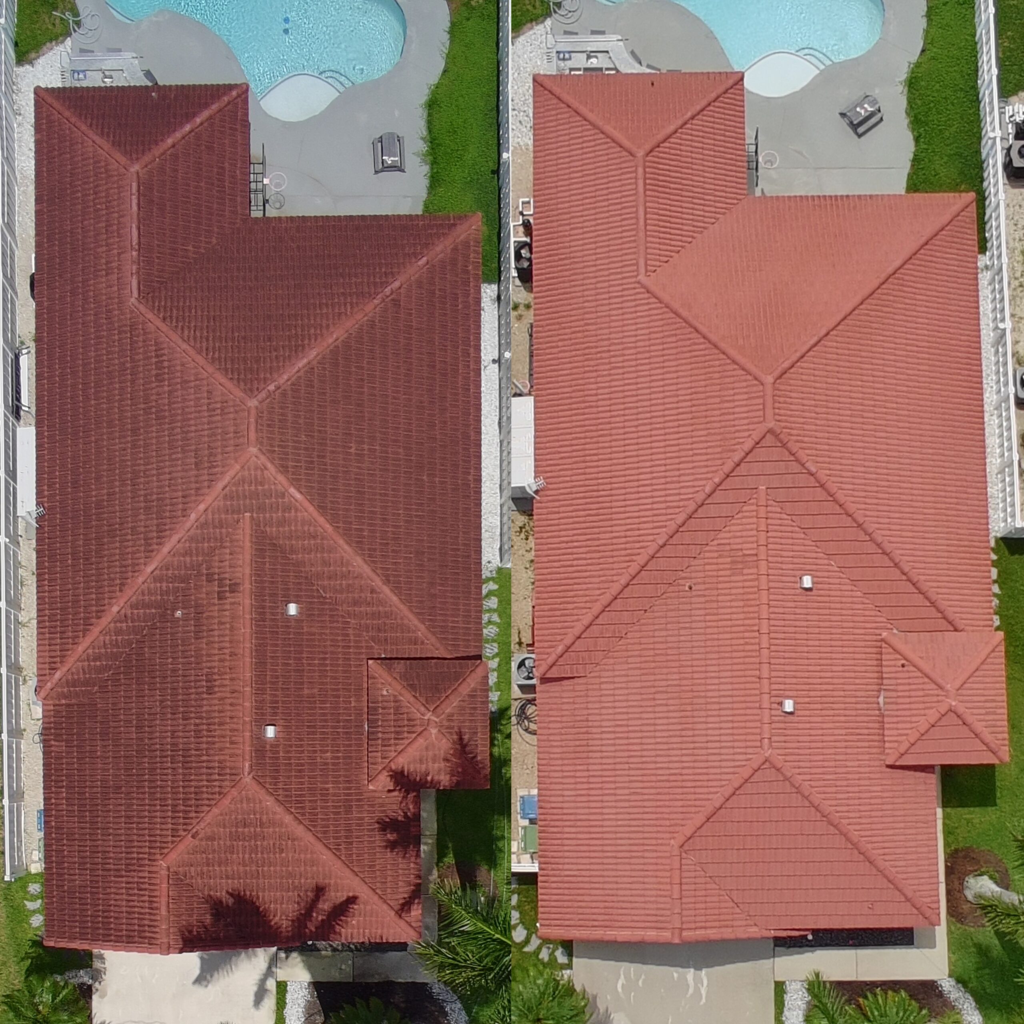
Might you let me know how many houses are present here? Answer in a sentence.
Altogether the scene contains 2 houses.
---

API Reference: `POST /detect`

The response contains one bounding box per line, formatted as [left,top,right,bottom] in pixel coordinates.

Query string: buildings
[34,82,491,953]
[533,71,1009,943]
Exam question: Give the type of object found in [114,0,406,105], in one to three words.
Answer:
swimming pool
